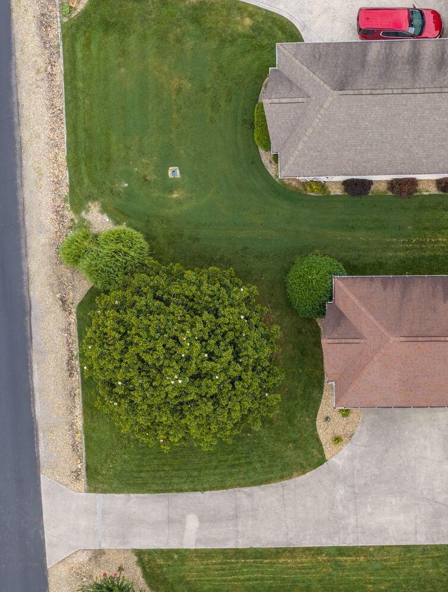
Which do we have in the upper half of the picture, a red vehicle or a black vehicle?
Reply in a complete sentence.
There is a red vehicle in the upper half of the picture.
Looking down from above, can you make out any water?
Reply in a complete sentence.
No, the picture contains no water.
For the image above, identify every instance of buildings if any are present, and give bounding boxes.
[321,272,448,409]
[263,40,448,185]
